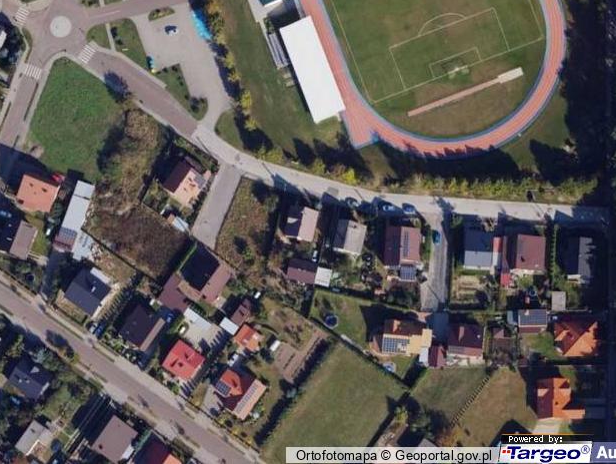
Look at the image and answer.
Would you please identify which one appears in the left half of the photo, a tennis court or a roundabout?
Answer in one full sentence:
The one visible in the left half of the photo is a roundabout.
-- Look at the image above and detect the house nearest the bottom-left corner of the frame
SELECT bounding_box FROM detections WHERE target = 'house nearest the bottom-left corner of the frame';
[19,419,57,462]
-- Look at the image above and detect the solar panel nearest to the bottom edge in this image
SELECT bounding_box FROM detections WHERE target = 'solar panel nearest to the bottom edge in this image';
[239,386,260,412]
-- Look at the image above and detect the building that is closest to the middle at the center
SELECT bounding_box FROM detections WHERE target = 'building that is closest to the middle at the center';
[278,203,319,243]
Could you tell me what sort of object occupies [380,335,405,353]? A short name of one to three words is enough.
solar panel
